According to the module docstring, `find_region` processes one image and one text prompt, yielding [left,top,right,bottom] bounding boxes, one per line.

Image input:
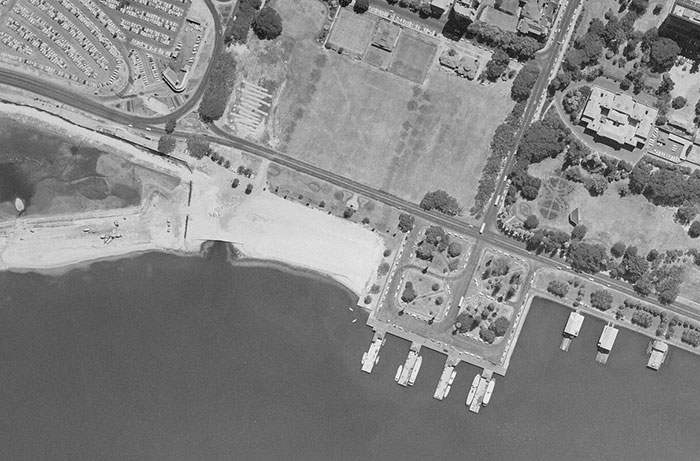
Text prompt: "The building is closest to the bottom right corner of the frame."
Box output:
[645,337,669,371]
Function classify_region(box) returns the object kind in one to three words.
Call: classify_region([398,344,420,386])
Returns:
pier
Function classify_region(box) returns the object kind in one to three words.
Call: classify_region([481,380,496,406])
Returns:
vessel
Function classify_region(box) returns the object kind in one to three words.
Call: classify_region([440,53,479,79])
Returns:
building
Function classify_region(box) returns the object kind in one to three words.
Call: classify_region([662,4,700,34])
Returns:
building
